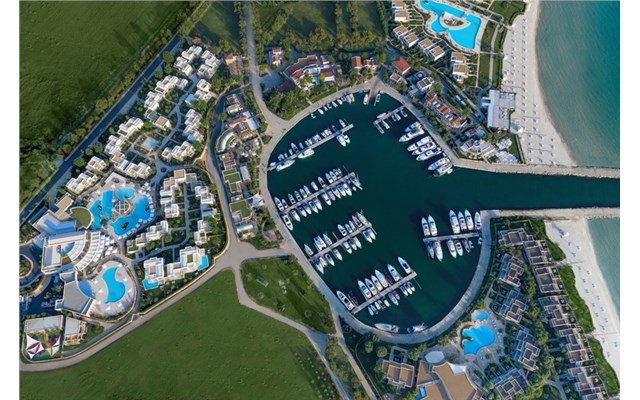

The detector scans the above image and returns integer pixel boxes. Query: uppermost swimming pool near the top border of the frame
[416,0,486,54]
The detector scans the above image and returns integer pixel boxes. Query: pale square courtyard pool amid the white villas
[139,137,158,153]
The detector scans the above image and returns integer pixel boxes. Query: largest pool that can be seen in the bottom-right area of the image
[456,305,506,366]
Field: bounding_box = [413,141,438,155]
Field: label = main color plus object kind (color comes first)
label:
white boat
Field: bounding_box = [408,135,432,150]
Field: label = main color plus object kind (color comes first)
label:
white boat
